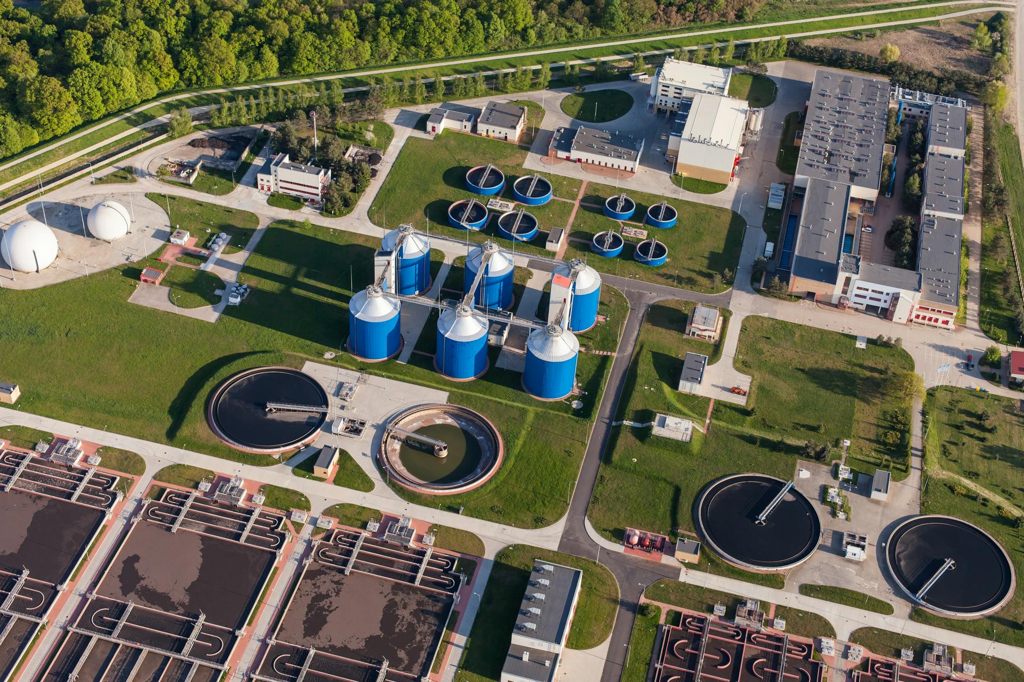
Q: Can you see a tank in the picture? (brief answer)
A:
Yes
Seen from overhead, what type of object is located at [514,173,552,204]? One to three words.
storage tank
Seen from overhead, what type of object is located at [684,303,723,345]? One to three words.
house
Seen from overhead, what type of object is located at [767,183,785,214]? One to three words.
shed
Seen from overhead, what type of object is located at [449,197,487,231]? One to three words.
storage tank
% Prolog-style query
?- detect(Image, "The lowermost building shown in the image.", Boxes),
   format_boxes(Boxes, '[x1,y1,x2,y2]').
[501,559,583,682]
